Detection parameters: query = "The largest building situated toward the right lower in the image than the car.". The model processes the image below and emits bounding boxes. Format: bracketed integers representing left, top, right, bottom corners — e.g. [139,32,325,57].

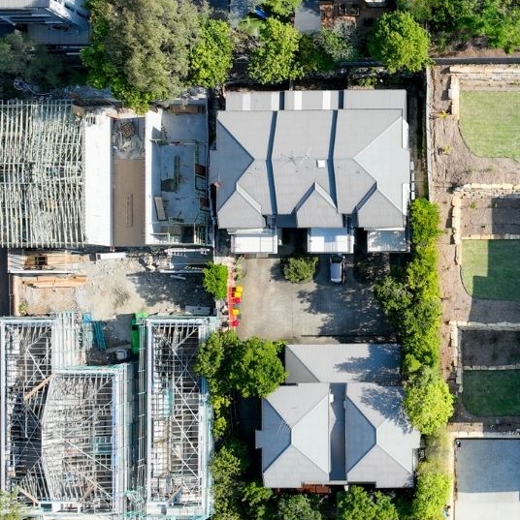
[255,343,422,494]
